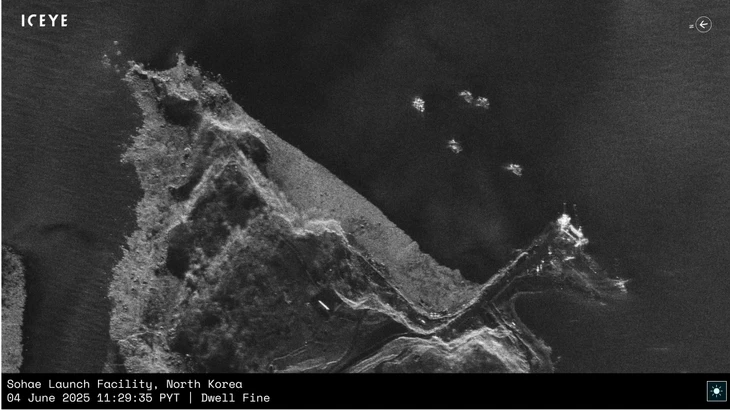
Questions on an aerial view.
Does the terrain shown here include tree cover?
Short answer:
No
